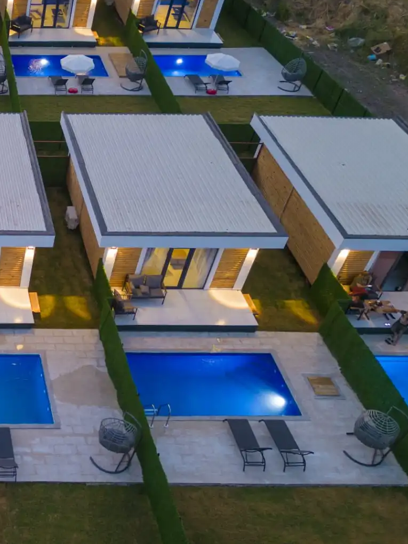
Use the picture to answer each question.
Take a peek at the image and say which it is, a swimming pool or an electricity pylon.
swimming pool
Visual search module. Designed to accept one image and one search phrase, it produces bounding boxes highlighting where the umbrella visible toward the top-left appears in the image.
[59,53,96,93]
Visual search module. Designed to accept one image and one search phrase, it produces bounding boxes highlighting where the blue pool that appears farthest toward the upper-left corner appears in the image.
[14,53,114,80]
